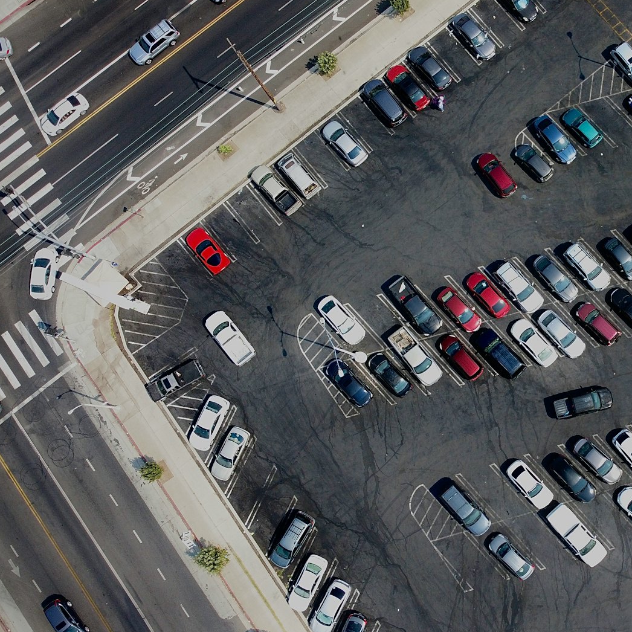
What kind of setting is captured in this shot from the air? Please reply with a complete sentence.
This image shows a parking lot.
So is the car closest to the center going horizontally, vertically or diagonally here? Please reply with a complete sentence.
In this picture, the car closest to the center is oriented diagonally.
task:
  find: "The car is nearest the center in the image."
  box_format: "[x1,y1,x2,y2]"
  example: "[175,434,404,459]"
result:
[316,292,368,347]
